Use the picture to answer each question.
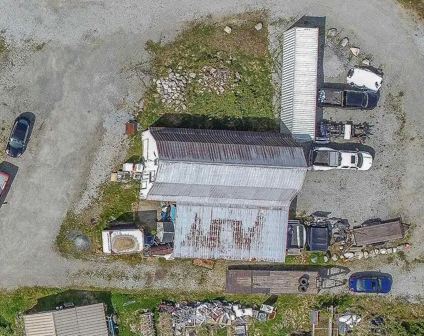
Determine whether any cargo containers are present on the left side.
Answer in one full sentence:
No, no cargo container appears on the left side.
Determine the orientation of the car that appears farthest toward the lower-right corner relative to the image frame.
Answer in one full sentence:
I'd say the car that appears farthest toward the lower-right corner is aligned horizontally in the picture.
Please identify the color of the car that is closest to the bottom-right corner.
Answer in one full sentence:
The car that is closest to the bottom-right corner is blue.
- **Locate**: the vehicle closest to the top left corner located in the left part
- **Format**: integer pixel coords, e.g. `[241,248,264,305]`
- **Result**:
[5,115,32,159]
